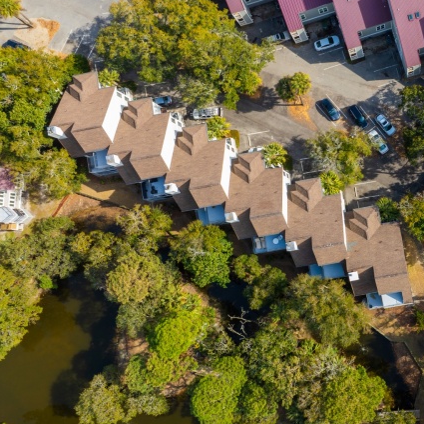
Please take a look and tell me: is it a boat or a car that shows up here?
car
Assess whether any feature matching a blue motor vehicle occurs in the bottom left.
No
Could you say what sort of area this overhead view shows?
residential area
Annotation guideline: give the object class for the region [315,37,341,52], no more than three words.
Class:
car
